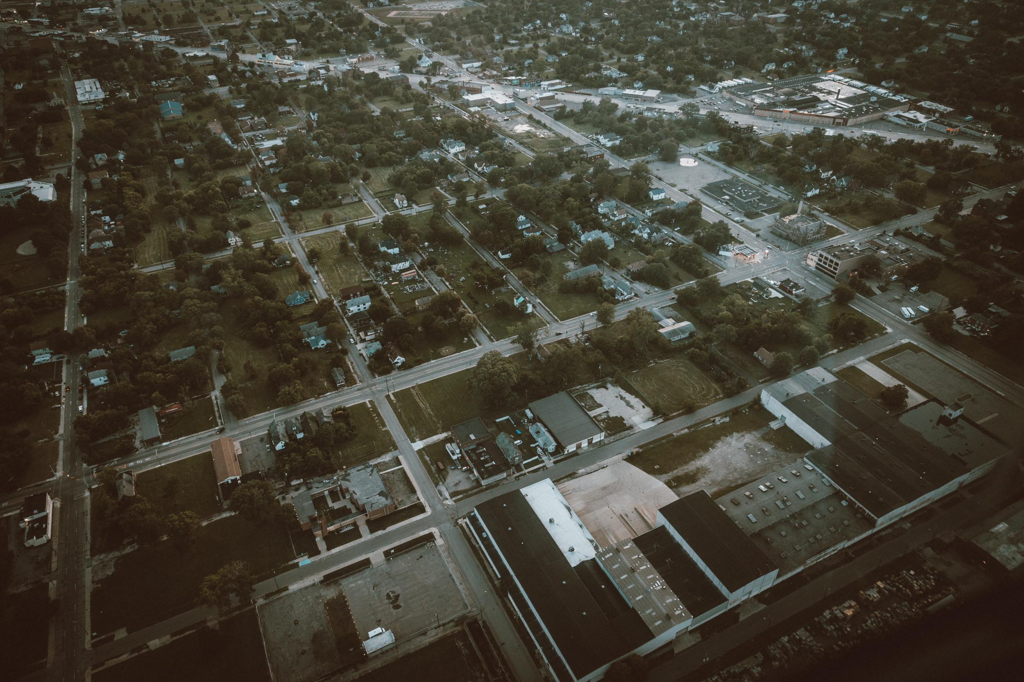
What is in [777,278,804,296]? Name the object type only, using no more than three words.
building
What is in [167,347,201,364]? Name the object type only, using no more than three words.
house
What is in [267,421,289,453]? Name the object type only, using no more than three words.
house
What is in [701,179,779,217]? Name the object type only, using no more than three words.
building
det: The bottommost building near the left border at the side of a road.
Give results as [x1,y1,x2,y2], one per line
[23,513,53,550]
